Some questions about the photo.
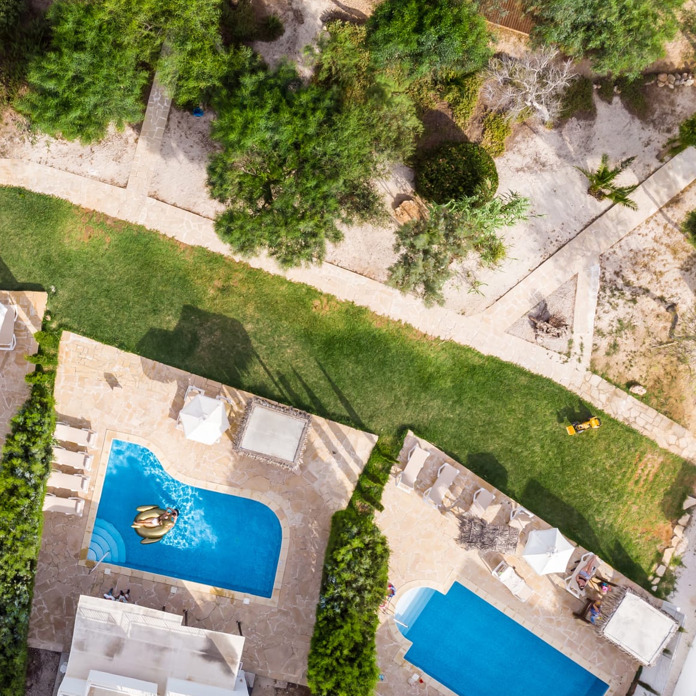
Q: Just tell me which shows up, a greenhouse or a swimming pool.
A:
swimming pool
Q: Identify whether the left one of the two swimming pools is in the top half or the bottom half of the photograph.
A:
bottom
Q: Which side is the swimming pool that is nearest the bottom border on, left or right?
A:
right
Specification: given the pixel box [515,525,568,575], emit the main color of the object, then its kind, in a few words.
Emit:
white umbrella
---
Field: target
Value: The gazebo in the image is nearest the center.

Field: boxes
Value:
[229,394,318,473]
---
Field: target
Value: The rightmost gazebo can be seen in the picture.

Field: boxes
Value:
[574,577,683,671]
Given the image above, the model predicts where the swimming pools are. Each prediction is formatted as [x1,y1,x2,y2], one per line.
[387,571,620,696]
[79,431,291,608]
